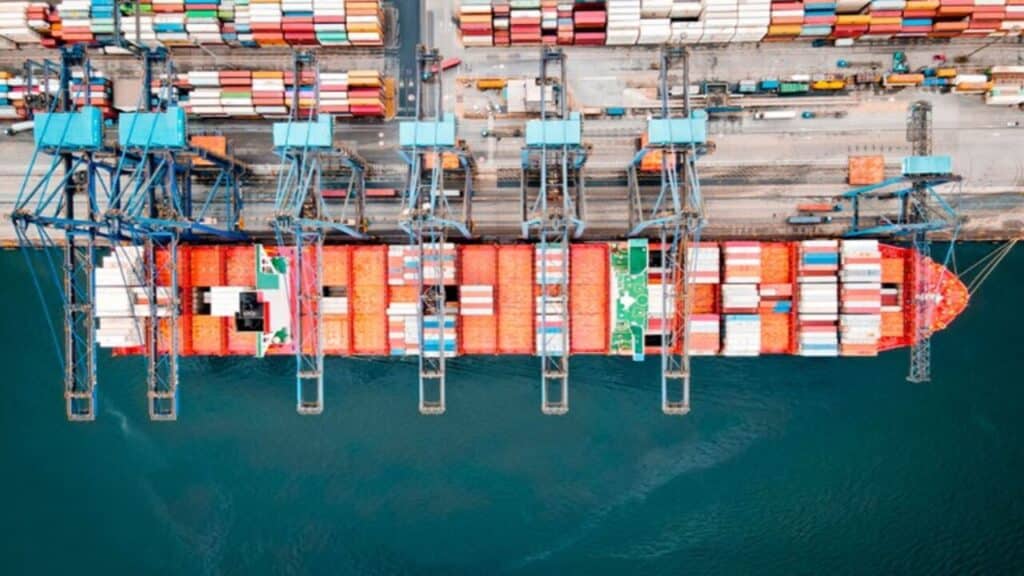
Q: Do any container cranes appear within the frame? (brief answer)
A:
Yes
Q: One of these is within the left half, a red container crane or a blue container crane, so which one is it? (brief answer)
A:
blue container crane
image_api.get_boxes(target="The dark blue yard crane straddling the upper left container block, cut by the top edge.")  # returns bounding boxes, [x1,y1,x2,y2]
[115,0,166,60]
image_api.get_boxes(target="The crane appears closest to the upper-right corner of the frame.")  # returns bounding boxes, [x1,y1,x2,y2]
[832,81,957,384]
